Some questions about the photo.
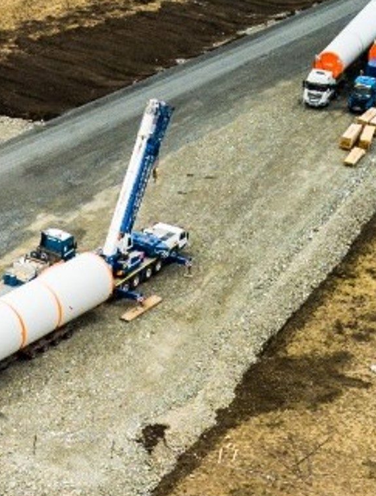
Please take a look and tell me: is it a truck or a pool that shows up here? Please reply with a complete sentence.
Of the two, only a truck appears.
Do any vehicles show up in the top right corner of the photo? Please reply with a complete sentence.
Yes, you'll find a vehicle in the top right corner of the photo.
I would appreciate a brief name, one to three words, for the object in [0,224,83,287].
truck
